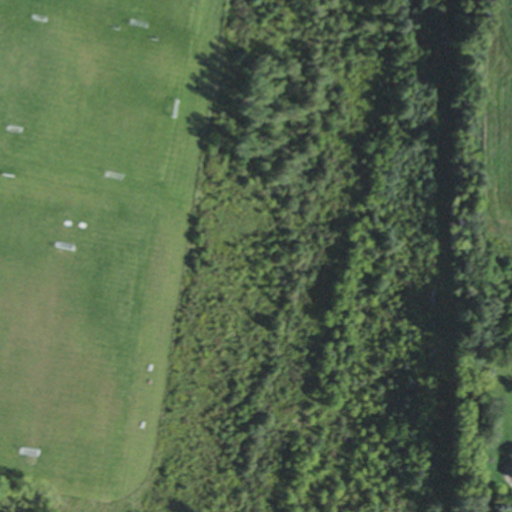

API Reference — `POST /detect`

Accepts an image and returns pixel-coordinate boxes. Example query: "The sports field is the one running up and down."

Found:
[0,0,224,512]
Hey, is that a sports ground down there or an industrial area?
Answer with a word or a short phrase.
sports ground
